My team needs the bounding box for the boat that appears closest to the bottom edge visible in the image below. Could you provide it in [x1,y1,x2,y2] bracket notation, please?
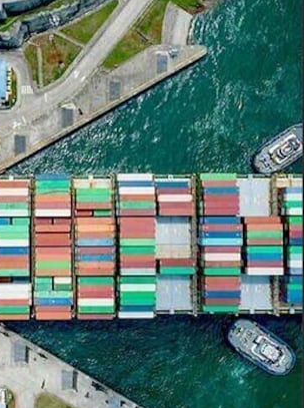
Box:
[222,319,297,372]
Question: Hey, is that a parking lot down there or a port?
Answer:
port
